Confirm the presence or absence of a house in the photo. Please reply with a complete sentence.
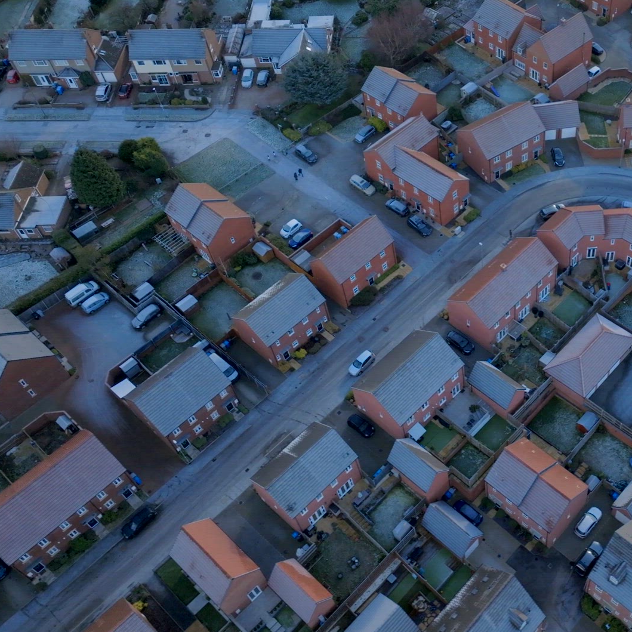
Yes, there's a house here.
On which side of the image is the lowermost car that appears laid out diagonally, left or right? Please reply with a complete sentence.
The lowermost car that appears laid out diagonally sits on the right side.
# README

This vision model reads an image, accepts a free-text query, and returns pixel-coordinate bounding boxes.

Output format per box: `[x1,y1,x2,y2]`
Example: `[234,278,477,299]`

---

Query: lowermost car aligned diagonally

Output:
[570,541,604,581]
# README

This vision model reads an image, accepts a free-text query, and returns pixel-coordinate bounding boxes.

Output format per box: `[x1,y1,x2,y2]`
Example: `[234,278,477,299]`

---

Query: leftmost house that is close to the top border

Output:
[8,22,105,87]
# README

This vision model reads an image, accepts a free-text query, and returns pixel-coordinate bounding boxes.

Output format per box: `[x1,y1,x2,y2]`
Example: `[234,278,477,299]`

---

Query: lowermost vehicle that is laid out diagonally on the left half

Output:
[121,502,161,539]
